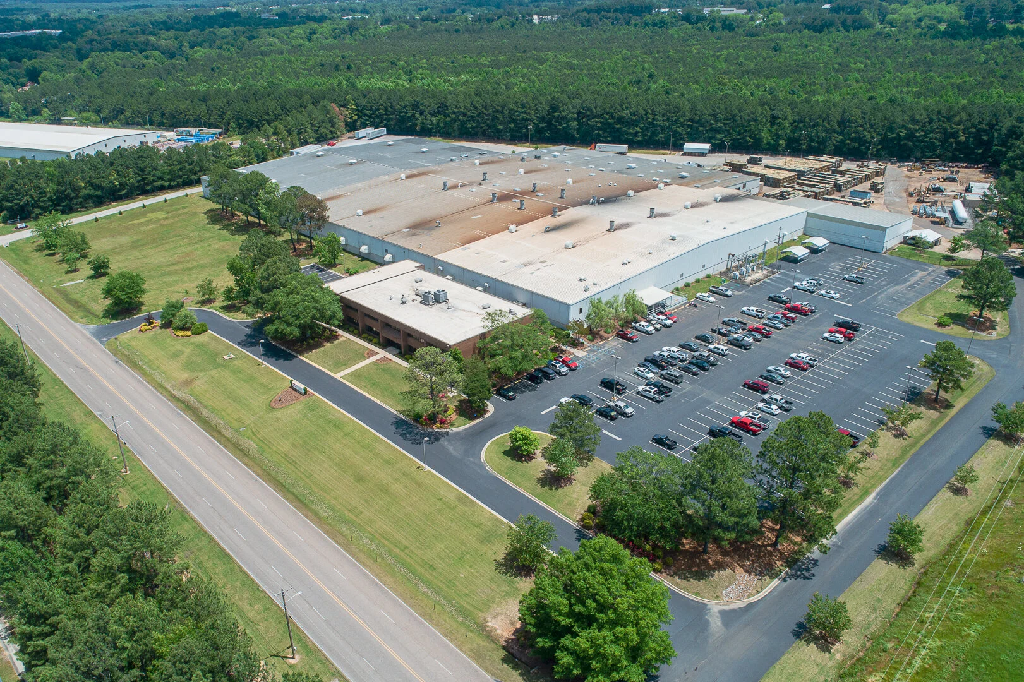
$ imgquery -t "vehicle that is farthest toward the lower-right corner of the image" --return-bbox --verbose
[828,427,866,446]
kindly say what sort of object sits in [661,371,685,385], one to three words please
car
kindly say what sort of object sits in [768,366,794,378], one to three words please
vehicle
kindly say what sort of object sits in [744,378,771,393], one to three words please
car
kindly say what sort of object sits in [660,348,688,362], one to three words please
vehicle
